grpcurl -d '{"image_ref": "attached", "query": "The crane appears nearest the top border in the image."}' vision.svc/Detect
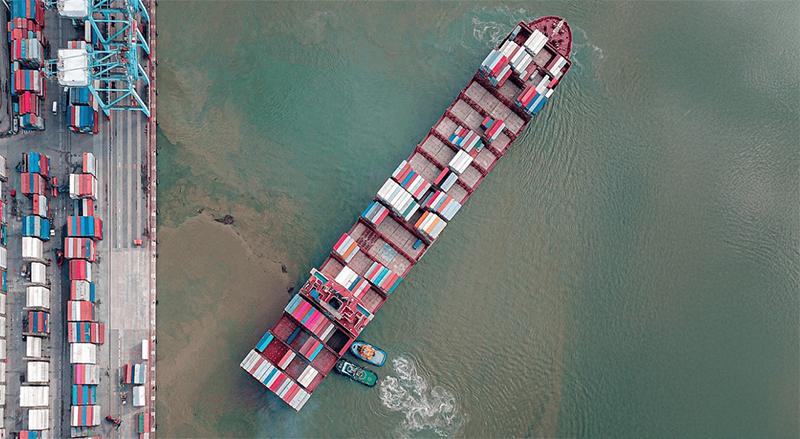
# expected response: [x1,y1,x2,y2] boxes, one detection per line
[41,0,150,59]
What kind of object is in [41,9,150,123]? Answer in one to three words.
container crane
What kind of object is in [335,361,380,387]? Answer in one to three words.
boat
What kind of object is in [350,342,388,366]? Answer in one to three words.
boat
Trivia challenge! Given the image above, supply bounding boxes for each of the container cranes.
[41,0,150,59]
[41,9,150,123]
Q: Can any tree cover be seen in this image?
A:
No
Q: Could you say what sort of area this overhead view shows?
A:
port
